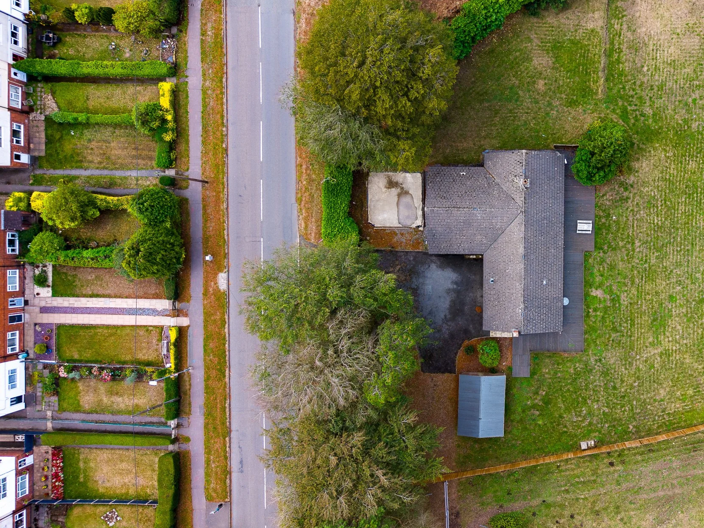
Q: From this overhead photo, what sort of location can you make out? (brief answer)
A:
residential area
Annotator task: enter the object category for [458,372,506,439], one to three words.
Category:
shed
